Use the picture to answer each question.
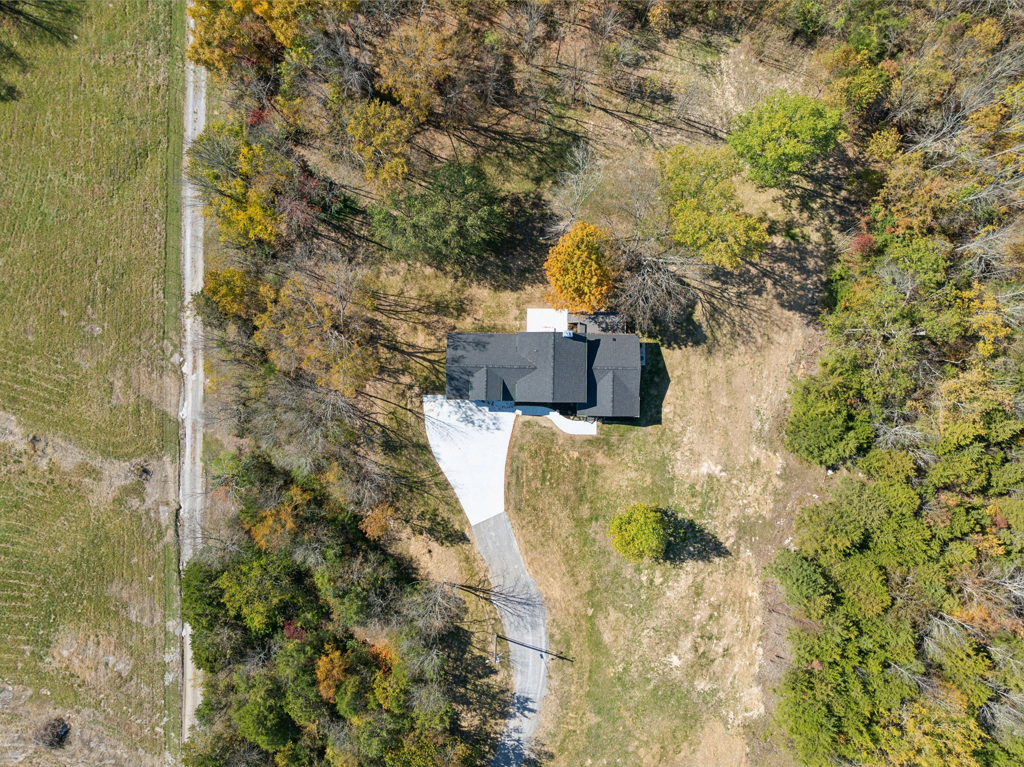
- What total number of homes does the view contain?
1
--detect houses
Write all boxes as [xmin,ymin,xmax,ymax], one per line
[445,311,641,422]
